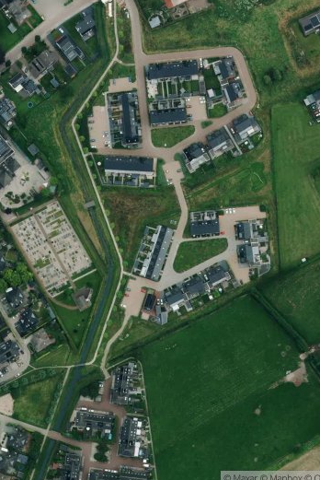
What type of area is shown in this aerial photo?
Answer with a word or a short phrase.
residential area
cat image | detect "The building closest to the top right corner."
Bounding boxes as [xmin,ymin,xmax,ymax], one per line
[298,10,320,33]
